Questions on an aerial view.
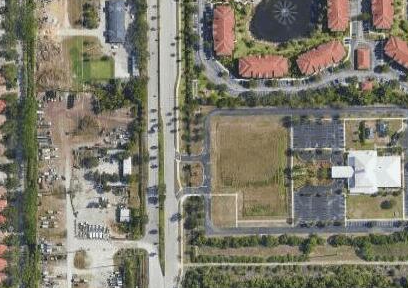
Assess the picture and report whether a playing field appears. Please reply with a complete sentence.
Yes, the photo shows a playing field.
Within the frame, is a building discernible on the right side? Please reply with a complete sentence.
Yes, a building can be seen on the right side.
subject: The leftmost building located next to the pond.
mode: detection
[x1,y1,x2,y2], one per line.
[214,7,235,55]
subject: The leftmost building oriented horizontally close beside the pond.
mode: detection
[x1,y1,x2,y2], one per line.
[241,55,289,78]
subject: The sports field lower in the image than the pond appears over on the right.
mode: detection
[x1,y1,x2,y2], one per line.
[212,115,292,226]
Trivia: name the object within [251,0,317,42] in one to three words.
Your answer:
pond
